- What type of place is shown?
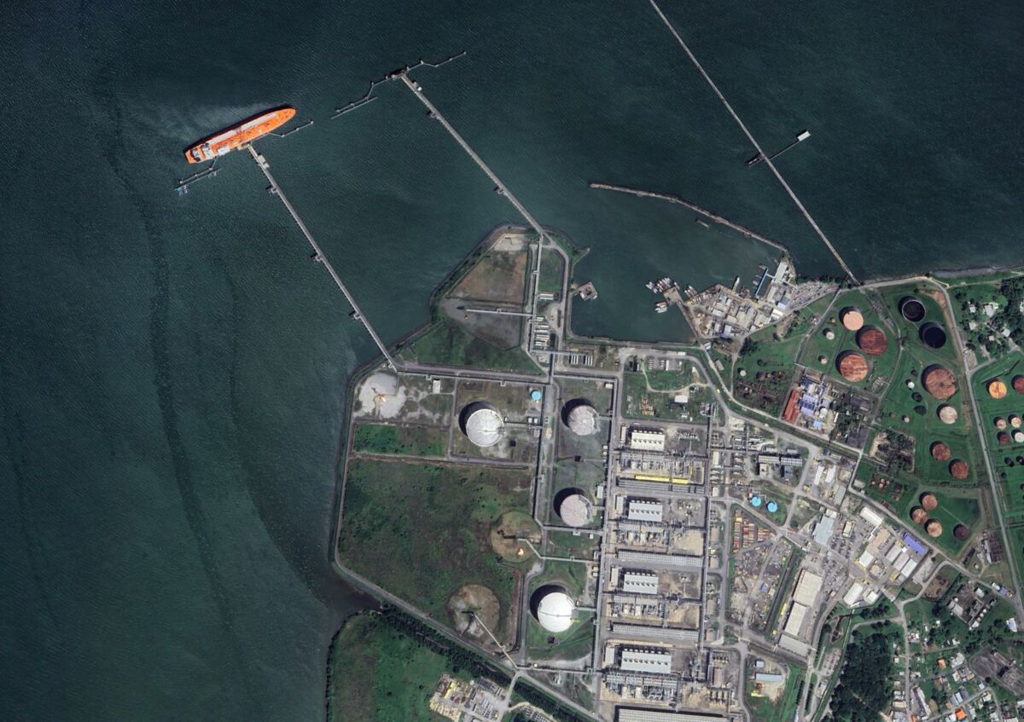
port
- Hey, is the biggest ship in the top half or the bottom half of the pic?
top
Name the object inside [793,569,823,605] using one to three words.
building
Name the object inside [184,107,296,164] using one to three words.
ship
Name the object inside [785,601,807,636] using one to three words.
building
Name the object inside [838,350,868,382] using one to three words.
storage tank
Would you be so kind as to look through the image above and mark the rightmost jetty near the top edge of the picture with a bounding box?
[652,0,858,285]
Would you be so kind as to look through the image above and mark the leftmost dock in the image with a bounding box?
[252,146,397,371]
